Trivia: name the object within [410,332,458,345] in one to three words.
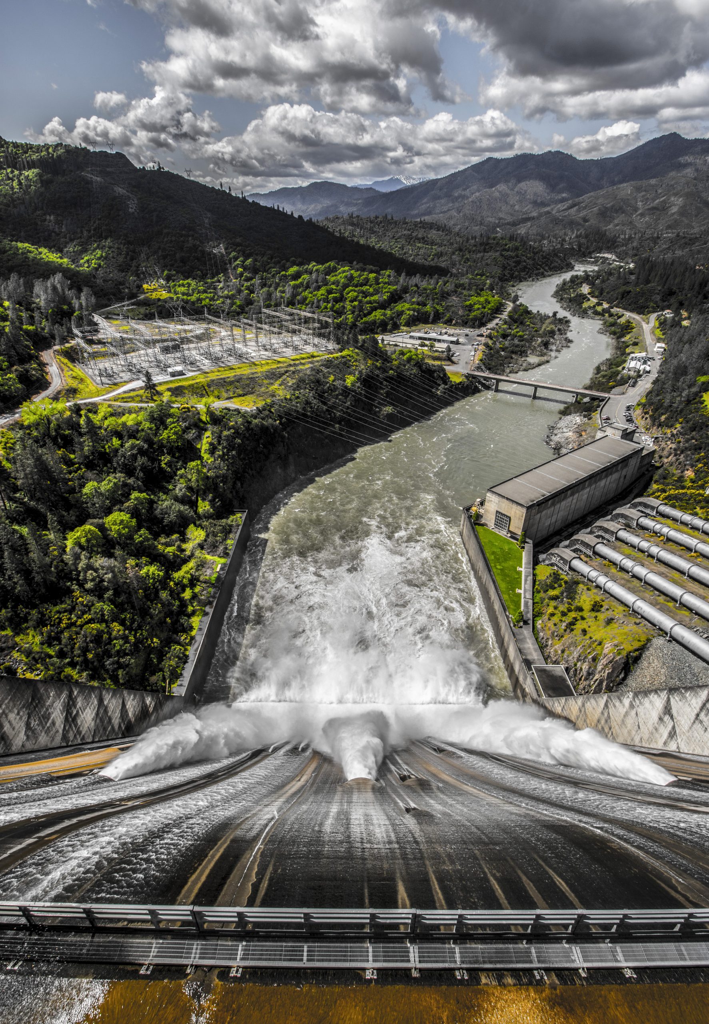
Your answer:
shed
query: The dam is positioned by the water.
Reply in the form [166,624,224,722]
[0,683,709,1024]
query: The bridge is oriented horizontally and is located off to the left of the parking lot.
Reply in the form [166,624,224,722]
[466,369,610,398]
